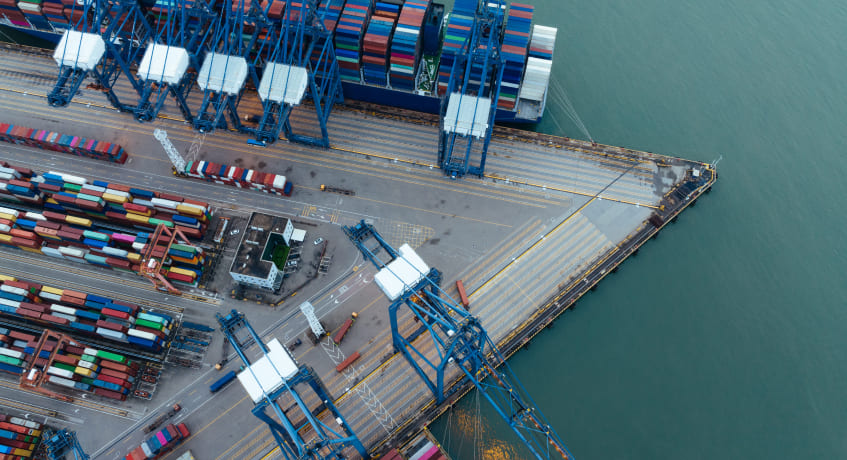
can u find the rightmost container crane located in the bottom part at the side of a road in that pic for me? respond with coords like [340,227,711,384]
[337,210,583,460]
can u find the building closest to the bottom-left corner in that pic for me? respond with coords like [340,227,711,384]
[229,211,294,294]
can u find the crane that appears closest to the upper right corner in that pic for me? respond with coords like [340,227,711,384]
[434,0,504,179]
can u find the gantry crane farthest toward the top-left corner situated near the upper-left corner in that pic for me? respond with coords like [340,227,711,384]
[42,0,148,112]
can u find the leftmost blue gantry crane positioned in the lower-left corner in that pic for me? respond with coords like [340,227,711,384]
[32,414,91,460]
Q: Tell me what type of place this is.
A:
port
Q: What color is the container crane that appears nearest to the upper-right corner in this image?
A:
blue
